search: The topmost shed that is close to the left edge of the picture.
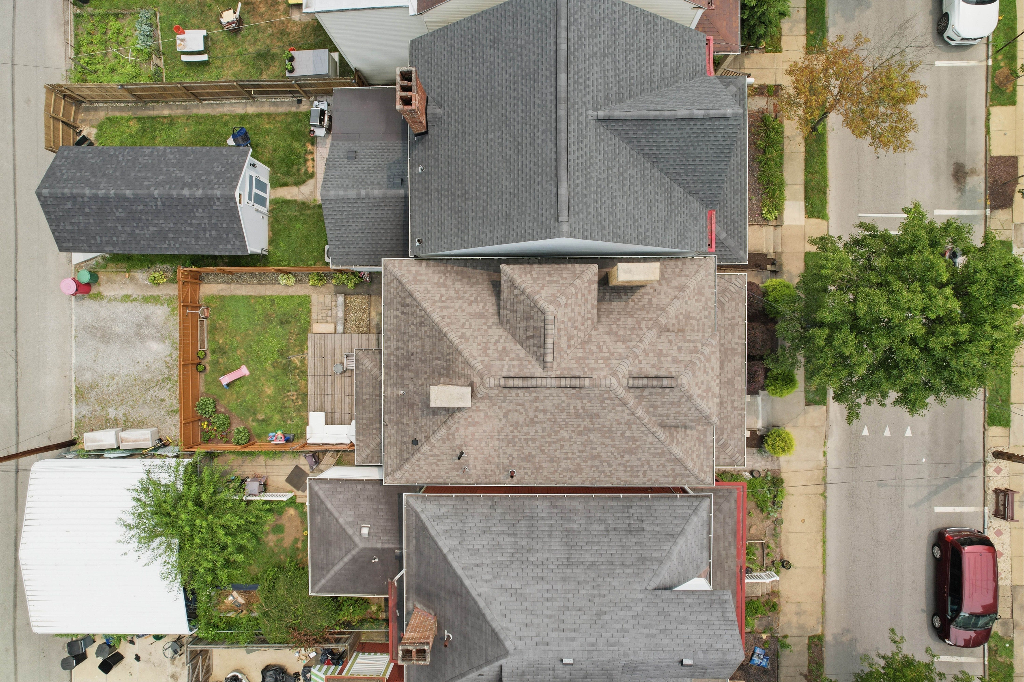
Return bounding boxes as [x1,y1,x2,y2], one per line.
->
[36,145,278,256]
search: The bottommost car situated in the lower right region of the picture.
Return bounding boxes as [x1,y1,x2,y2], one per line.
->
[927,526,996,648]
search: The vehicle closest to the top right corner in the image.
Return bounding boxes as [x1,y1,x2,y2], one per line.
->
[932,0,997,49]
